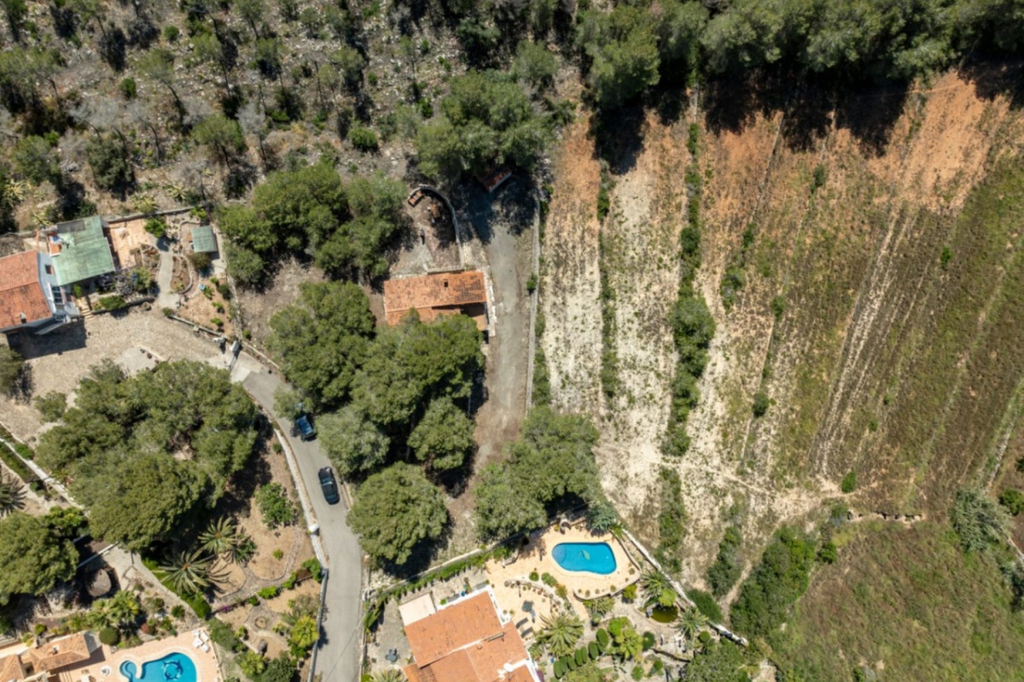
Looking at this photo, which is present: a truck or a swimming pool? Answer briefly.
swimming pool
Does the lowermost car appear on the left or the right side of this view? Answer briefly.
left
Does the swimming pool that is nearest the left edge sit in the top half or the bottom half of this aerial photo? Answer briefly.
bottom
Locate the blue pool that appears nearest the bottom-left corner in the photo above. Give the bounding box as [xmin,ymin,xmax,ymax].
[118,650,199,682]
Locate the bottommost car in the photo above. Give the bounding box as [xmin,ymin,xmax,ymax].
[319,468,341,506]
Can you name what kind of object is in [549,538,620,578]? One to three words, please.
swimming pool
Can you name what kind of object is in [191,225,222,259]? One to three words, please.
shed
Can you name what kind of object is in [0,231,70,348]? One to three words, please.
house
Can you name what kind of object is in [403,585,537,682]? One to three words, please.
house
